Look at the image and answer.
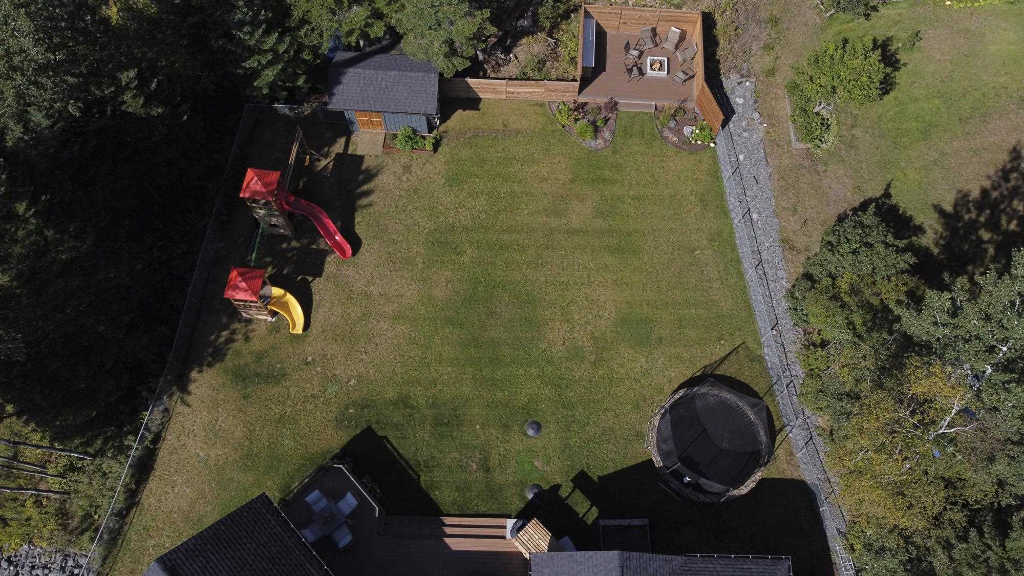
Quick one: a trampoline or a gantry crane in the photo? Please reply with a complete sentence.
There is a trampoline in the scene.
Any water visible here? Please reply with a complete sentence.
No, there's no water in this view.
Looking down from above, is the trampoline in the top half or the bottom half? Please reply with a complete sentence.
The trampoline sits in the bottom half of the picture.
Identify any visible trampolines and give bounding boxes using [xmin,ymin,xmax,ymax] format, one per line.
[642,371,788,510]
